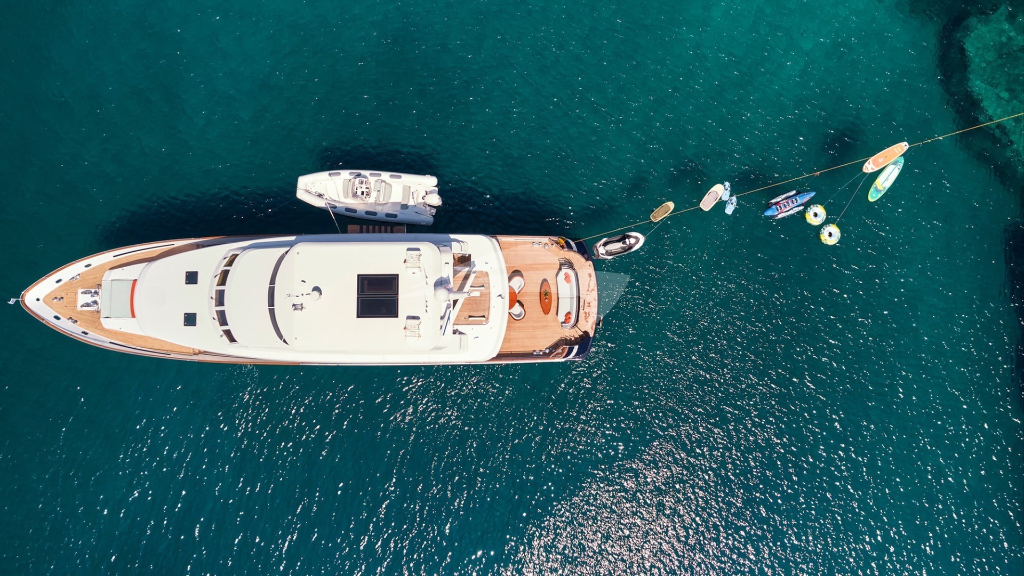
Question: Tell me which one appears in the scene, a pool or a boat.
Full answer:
There is a boat in the scene.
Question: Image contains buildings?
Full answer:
No, the picture doesn't show any building.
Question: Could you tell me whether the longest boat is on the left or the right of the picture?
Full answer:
The longest boat is on the left side of the image.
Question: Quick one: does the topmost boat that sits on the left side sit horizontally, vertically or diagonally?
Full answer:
The topmost boat that sits on the left side is oriented horizontally.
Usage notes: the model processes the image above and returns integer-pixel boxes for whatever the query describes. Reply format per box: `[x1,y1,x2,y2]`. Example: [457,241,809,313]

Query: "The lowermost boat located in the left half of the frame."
[1,225,602,367]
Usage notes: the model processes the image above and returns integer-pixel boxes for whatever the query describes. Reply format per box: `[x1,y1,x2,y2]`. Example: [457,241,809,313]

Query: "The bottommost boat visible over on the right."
[592,232,646,259]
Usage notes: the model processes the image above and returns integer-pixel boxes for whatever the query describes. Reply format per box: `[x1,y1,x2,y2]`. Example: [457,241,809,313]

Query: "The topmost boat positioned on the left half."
[296,170,444,226]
